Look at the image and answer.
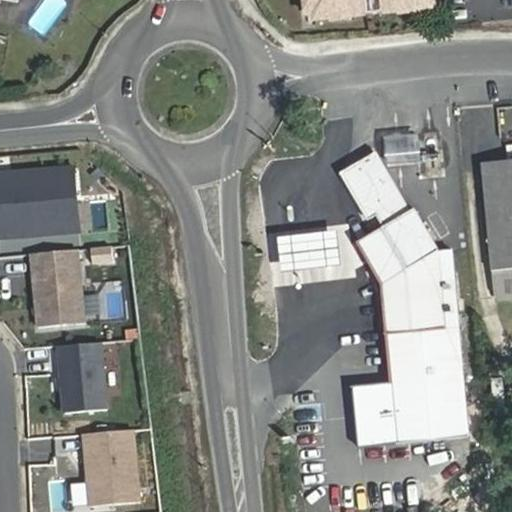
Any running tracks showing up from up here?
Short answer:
No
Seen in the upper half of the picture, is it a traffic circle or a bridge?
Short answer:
traffic circle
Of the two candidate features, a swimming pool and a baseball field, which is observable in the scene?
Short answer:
swimming pool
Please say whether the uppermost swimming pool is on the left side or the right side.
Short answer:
left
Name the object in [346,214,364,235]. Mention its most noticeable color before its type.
gray car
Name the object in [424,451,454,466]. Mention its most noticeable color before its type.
white vehicle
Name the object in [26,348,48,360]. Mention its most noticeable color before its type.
white vehicle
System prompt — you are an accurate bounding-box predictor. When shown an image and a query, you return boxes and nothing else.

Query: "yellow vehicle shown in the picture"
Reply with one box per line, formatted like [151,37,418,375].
[356,484,368,510]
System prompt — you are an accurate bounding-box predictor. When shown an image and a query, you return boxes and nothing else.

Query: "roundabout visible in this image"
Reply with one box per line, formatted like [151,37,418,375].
[138,42,236,140]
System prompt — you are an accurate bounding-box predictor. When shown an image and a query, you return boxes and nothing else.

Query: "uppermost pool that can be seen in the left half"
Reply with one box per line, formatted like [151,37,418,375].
[28,0,67,36]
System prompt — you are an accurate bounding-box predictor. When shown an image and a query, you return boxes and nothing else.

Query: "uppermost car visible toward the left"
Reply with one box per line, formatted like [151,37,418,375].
[152,2,165,26]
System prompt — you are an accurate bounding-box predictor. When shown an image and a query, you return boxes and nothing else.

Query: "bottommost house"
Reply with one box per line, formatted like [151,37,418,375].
[70,430,142,508]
